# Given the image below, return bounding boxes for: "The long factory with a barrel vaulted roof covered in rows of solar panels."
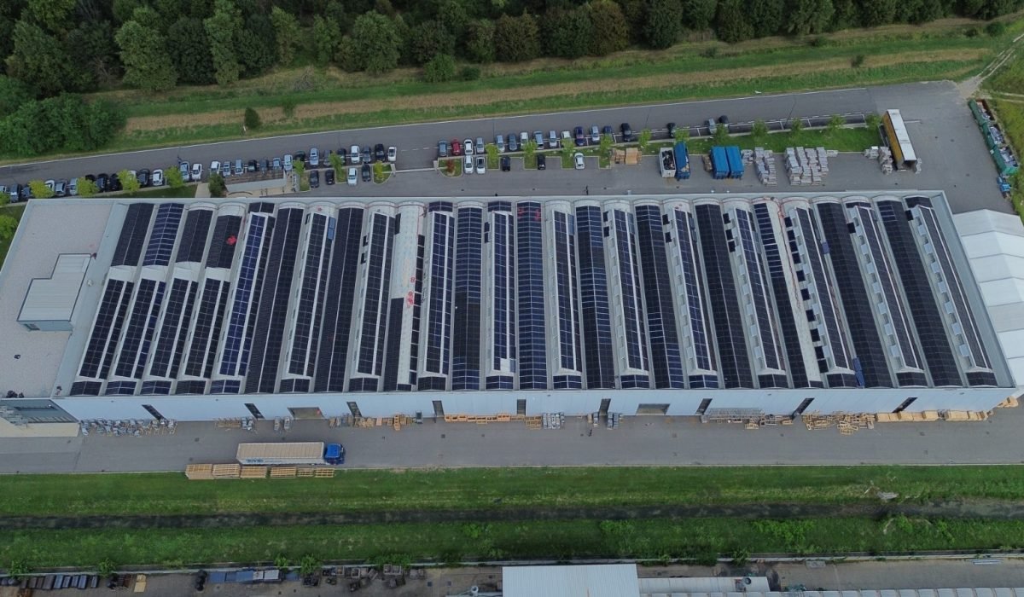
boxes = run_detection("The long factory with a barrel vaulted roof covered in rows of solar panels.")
[0,190,1016,422]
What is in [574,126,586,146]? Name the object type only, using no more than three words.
vehicle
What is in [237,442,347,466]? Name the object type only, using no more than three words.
truck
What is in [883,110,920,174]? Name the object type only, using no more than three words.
trailer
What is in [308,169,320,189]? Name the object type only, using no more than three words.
vehicle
